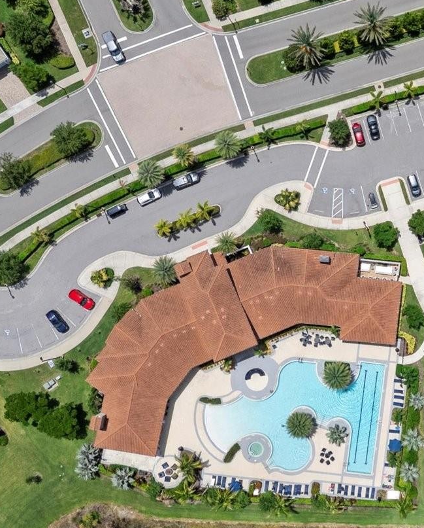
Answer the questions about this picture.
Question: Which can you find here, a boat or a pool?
pool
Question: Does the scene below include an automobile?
Yes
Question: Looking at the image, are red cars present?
Yes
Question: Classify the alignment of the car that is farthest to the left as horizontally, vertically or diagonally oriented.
diagonally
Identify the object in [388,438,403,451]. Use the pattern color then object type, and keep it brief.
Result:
blue umbrella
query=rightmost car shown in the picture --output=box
[407,173,422,199]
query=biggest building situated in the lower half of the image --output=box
[85,246,403,457]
